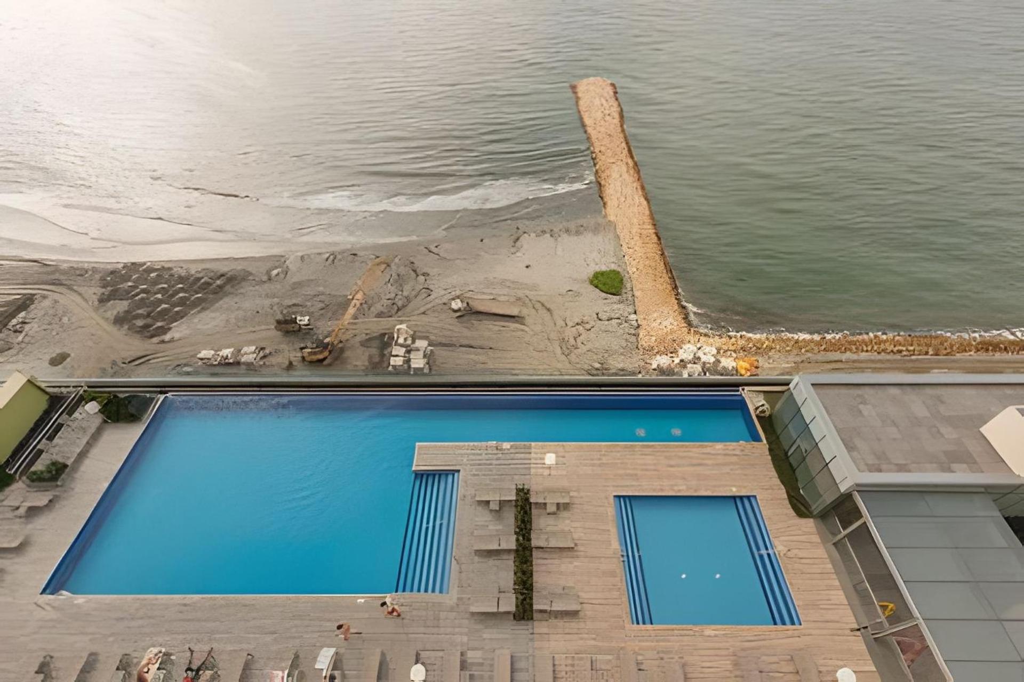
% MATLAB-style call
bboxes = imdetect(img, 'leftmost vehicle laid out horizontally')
[265,316,317,335]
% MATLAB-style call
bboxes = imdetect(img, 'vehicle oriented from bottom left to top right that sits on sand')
[284,271,384,376]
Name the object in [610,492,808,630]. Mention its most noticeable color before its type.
blue swimming pool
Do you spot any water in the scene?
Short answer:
Yes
